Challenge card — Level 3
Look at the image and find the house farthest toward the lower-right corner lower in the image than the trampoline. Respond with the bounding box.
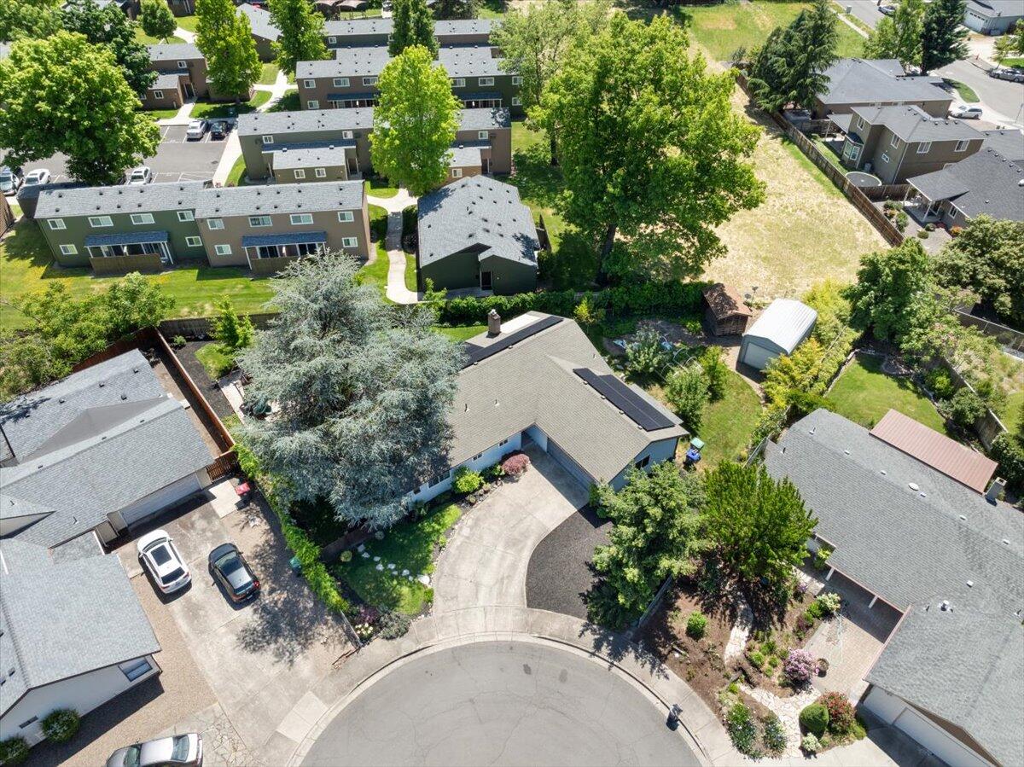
[749,409,1024,767]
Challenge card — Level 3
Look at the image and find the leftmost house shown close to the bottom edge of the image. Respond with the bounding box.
[0,520,165,764]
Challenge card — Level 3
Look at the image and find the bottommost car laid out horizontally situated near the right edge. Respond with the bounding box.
[948,101,987,117]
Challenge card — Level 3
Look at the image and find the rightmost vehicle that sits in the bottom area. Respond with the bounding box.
[207,540,262,606]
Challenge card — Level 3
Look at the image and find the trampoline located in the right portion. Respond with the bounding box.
[847,171,884,187]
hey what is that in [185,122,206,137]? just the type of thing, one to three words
car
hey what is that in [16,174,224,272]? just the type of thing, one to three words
building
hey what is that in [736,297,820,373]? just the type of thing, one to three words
shed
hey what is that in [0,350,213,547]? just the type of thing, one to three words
house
